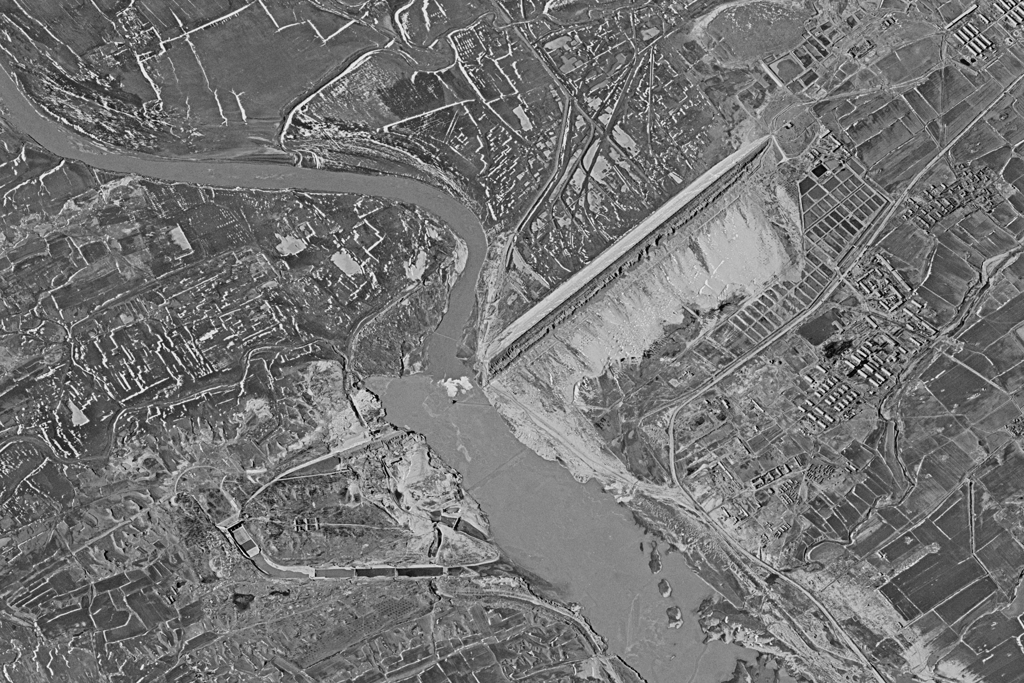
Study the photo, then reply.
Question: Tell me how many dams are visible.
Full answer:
The count of dams comes to 2.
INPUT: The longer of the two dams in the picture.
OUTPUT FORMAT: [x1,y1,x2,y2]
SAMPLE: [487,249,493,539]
[478,134,772,368]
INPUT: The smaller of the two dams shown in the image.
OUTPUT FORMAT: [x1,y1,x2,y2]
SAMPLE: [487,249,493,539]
[268,428,410,480]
